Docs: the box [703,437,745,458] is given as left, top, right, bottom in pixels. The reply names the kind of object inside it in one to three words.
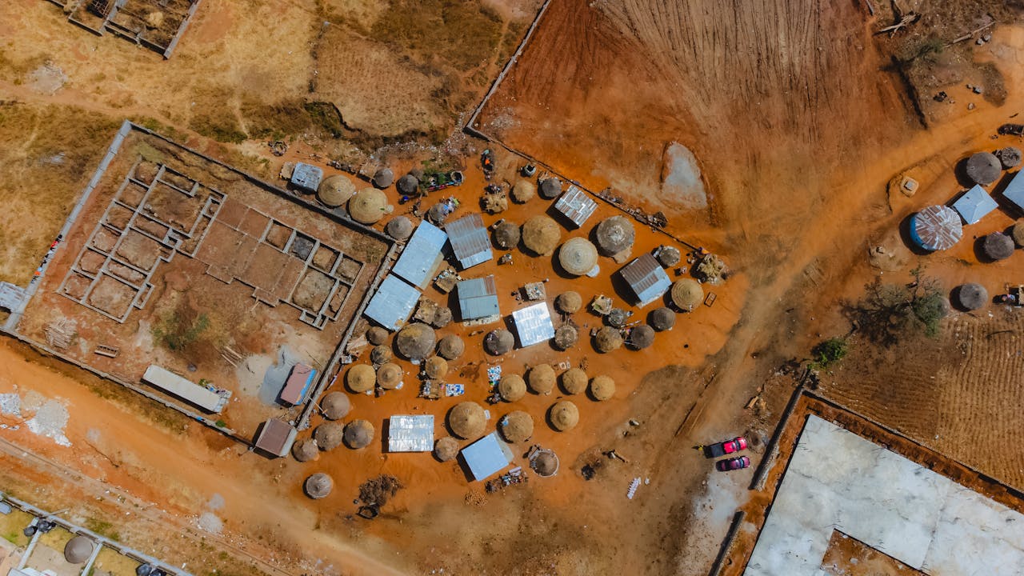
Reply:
truck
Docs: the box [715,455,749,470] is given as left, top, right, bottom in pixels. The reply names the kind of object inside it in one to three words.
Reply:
car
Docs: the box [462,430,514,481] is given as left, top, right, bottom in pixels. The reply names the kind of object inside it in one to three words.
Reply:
house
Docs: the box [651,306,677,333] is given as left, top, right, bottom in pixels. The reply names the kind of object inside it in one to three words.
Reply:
shed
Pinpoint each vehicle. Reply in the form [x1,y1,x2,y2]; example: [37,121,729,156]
[715,455,749,470]
[703,437,745,458]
